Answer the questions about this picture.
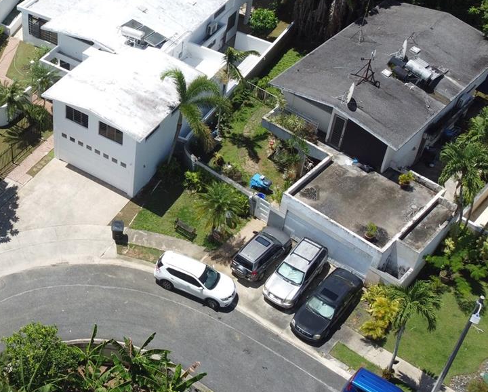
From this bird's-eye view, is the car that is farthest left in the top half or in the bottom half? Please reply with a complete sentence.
You can find the car that is farthest left in the bottom half.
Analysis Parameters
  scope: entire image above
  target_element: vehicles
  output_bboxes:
[274,232,339,304]
[152,251,240,313]
[299,263,368,338]
[336,358,409,392]
[233,226,297,287]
